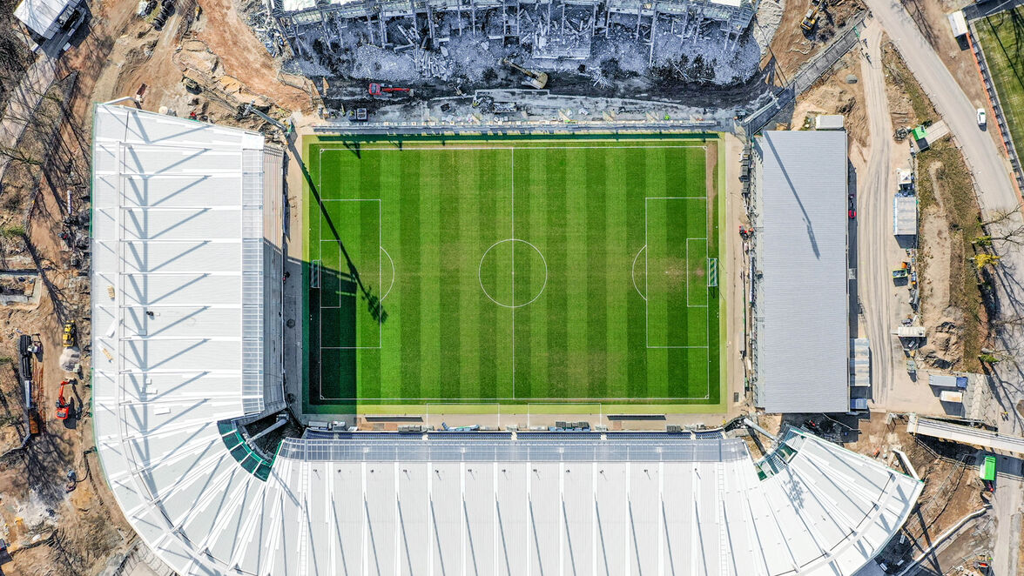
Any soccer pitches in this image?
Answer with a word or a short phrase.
Yes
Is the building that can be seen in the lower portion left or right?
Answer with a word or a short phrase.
right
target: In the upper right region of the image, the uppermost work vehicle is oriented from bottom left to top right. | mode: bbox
[800,0,832,32]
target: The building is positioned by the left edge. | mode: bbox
[11,0,90,36]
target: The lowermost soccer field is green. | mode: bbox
[301,131,727,426]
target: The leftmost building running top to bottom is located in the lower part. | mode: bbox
[849,336,870,386]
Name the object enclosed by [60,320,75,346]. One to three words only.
work vehicle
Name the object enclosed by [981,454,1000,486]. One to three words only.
vehicle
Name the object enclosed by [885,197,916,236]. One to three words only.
building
